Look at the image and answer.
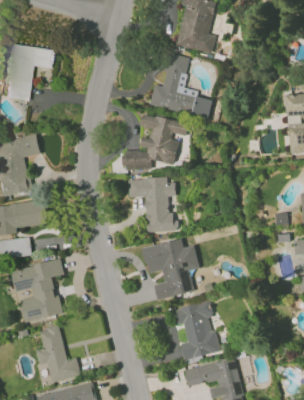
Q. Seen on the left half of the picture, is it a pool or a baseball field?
pool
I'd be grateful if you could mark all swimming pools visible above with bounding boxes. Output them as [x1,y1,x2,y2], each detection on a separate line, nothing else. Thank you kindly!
[191,64,212,91]
[254,356,270,386]
[0,98,24,125]
[20,353,35,380]
[284,366,302,396]
[282,180,304,206]
[220,260,245,279]
[260,127,278,154]
[296,310,304,334]
[278,252,296,280]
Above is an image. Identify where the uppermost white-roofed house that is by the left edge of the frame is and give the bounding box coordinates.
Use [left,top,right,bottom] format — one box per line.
[6,42,54,100]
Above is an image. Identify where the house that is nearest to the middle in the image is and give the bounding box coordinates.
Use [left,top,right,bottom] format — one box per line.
[130,178,178,234]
